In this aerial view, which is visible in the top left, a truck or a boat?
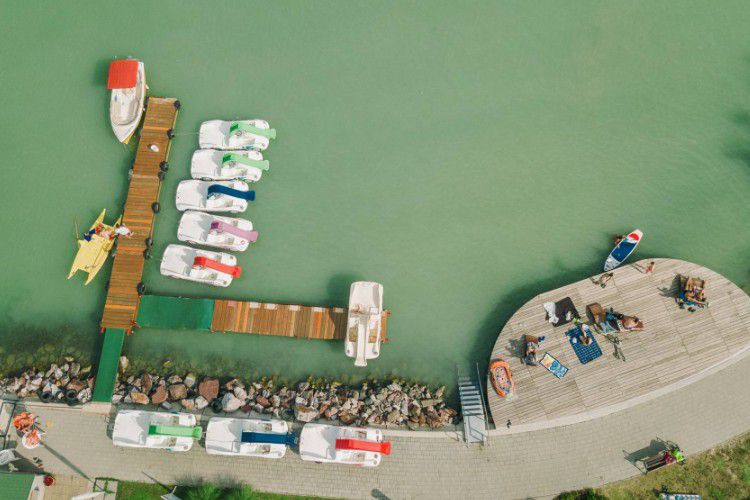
boat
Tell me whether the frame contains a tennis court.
No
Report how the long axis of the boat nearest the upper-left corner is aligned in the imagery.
vertically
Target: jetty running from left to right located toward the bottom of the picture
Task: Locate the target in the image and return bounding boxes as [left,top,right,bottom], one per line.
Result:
[136,295,390,343]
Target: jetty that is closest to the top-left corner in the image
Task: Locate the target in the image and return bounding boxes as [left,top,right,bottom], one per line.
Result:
[100,96,180,332]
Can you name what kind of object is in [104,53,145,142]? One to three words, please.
boat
